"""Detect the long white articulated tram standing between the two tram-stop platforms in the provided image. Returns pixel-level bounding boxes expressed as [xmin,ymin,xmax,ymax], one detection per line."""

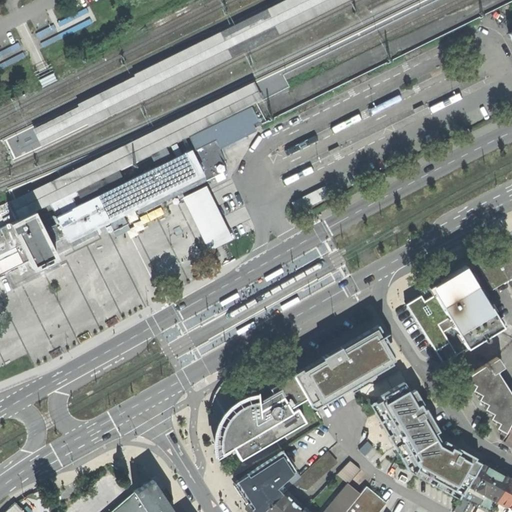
[231,266,322,316]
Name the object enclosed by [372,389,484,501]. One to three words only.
building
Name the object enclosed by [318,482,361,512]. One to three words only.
house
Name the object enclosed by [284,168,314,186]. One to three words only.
vehicle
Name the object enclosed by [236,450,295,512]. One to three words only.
building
